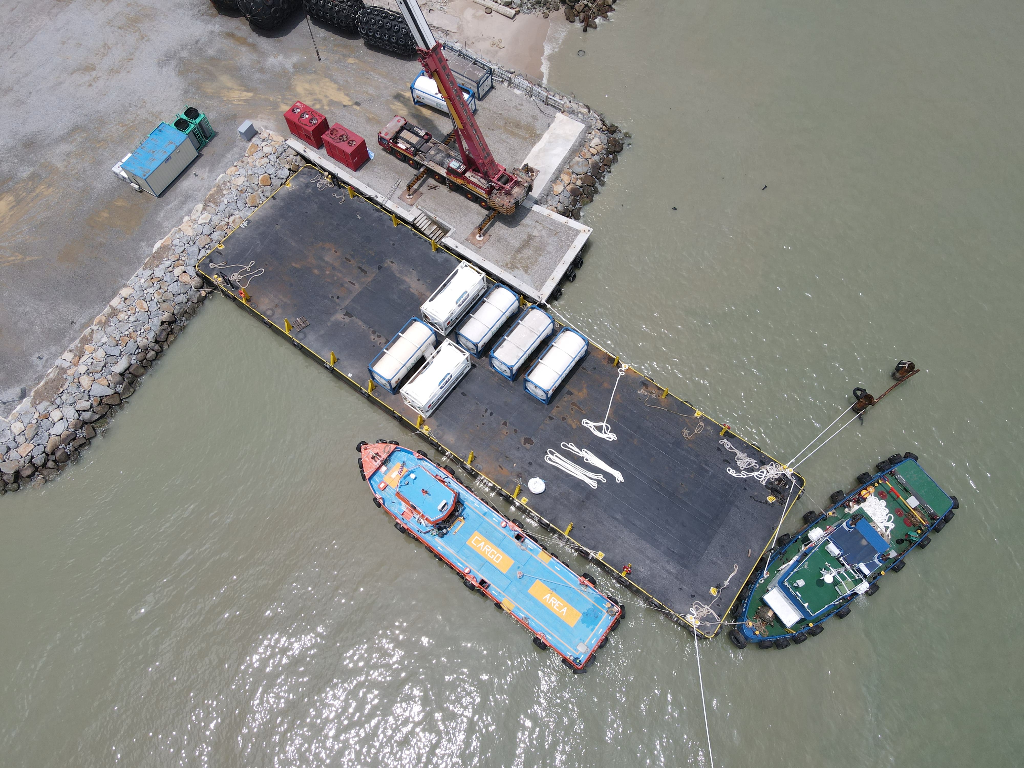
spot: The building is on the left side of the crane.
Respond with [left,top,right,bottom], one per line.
[118,123,197,197]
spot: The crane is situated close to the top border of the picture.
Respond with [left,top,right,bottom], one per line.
[312,0,534,239]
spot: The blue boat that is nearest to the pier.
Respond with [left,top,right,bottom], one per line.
[356,439,627,677]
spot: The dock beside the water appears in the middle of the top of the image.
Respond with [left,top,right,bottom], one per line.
[285,91,593,308]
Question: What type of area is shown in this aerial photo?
port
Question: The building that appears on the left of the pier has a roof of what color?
blue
